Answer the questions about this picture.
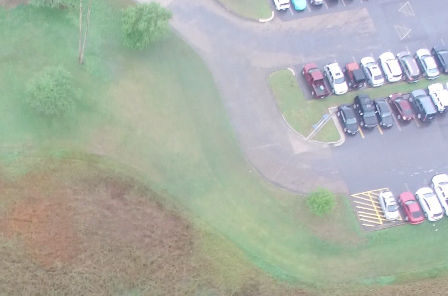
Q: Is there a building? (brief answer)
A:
No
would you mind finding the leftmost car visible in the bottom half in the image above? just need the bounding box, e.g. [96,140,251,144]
[375,188,401,222]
